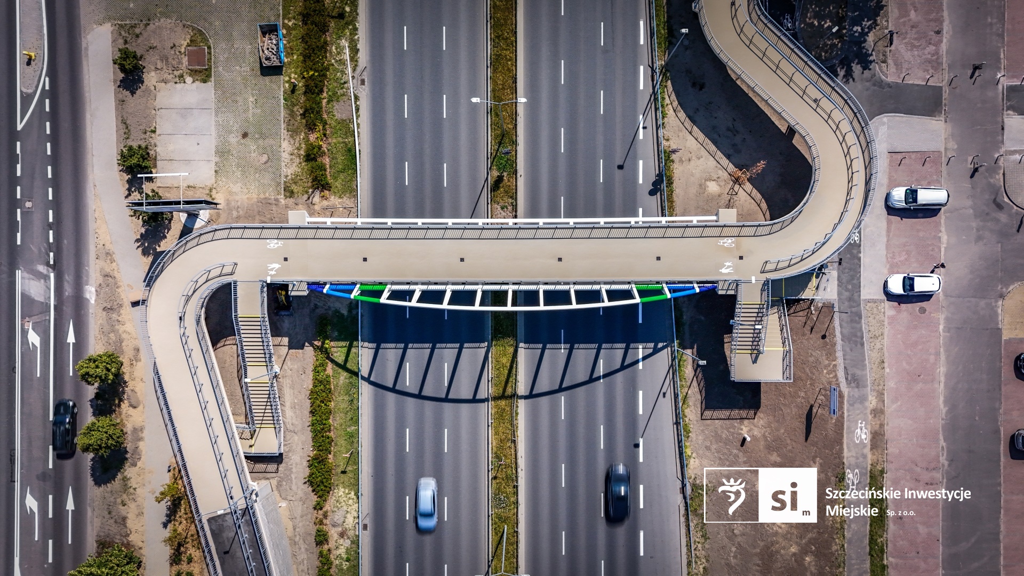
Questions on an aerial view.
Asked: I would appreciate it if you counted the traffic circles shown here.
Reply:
0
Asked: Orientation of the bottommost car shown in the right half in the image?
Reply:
vertically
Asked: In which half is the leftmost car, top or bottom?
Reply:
bottom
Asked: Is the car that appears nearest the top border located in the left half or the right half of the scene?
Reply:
right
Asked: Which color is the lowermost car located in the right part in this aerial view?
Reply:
black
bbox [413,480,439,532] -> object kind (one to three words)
car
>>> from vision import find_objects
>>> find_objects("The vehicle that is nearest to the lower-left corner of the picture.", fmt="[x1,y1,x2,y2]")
[48,403,80,457]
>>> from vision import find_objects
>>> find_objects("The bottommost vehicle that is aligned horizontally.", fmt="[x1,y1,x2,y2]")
[885,271,939,297]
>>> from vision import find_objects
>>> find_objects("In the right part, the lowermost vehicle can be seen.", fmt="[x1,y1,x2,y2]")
[605,466,632,522]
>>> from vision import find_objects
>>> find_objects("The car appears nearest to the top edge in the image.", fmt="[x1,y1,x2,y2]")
[890,183,950,210]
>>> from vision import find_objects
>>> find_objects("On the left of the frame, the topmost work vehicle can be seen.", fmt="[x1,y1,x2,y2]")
[268,281,293,317]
